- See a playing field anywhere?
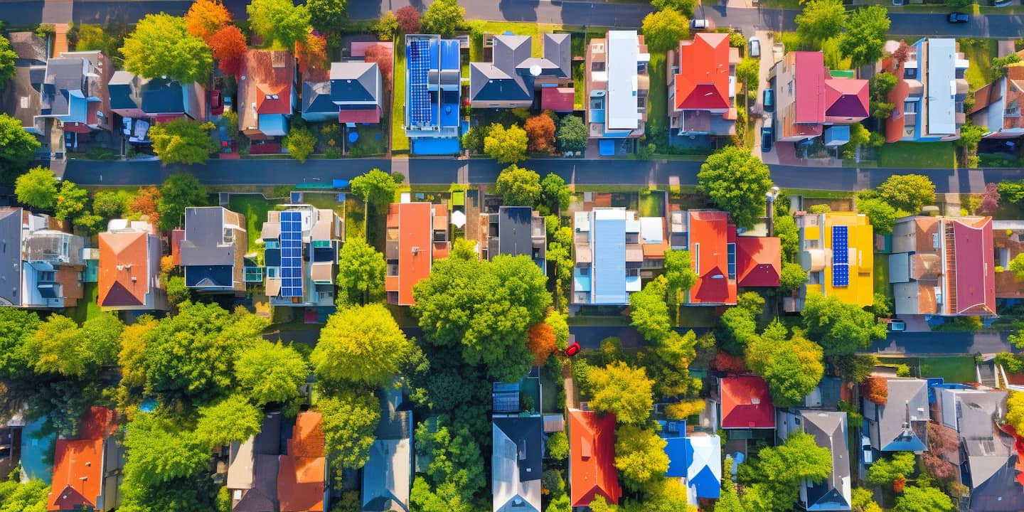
No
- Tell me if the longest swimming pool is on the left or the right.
left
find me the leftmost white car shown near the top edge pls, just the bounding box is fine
[690,16,712,28]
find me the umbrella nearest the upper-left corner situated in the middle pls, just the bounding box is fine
[452,212,466,225]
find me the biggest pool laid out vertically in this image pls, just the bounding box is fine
[23,412,58,490]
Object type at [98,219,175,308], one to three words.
house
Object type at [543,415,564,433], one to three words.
shed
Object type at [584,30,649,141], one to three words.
house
